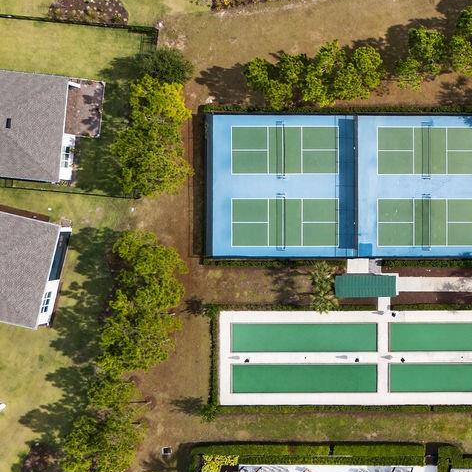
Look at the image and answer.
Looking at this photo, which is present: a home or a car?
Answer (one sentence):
The image shows a home.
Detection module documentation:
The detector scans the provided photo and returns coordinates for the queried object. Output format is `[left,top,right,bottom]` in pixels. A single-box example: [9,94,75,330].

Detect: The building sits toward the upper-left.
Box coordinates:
[0,69,76,183]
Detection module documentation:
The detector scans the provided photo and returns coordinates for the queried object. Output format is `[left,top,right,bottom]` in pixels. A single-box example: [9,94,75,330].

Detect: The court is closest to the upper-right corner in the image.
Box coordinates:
[377,120,472,180]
